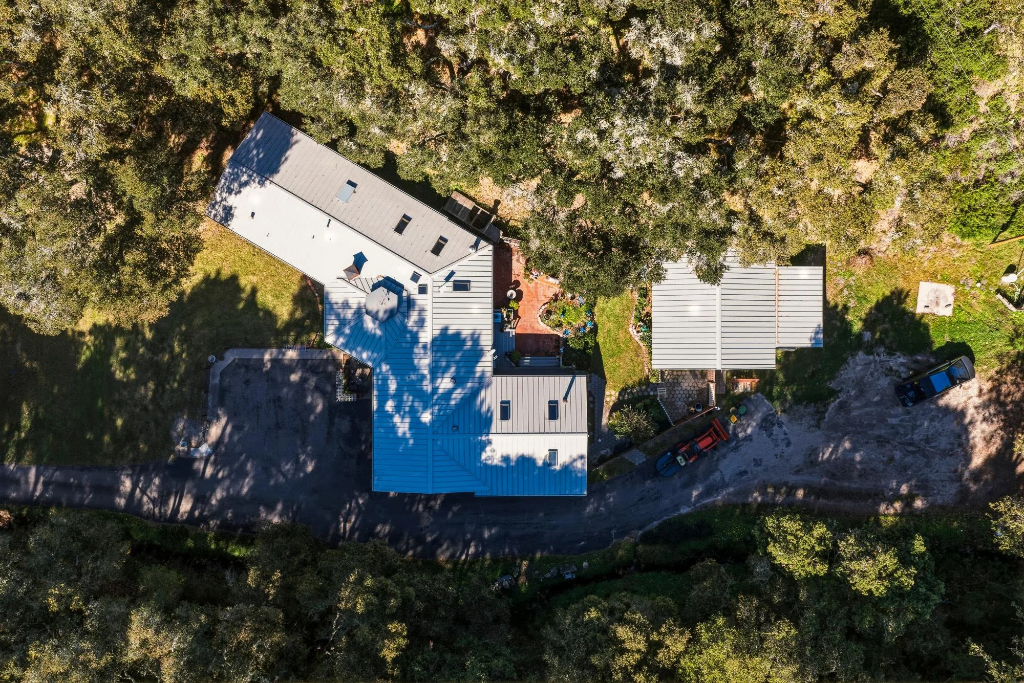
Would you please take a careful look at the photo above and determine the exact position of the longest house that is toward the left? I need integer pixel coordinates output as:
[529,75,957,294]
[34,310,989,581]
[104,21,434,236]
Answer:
[207,111,589,497]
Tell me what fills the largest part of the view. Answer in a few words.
trees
